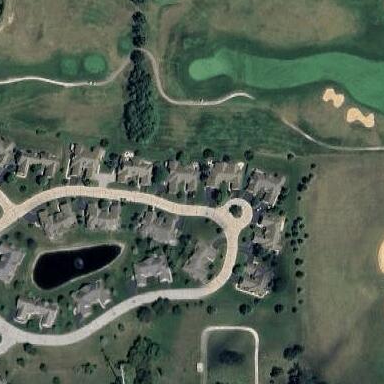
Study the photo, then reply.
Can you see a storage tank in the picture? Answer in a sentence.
No, the photo shows no storage tank.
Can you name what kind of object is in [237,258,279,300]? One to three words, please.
house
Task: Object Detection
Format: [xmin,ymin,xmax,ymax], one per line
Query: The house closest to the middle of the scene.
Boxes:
[166,161,199,193]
